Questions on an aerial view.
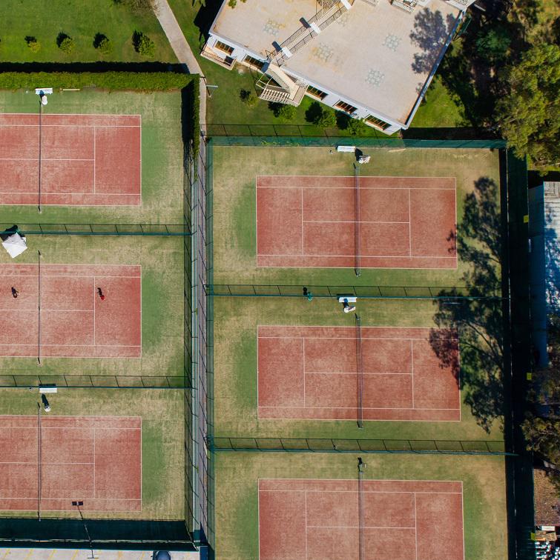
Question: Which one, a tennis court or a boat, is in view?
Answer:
tennis court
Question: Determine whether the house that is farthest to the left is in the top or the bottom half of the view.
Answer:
top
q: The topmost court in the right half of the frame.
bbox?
[207,146,510,298]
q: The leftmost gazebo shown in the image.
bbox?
[2,232,29,263]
